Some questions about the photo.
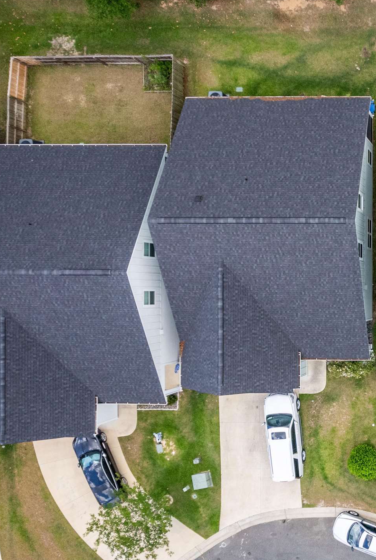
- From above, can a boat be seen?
No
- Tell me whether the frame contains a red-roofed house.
No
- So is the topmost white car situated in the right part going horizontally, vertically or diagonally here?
vertically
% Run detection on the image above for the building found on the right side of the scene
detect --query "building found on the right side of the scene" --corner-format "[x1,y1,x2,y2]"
[148,95,375,397]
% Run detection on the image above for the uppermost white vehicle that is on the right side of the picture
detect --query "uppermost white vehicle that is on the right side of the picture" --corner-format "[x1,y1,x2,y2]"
[258,390,307,483]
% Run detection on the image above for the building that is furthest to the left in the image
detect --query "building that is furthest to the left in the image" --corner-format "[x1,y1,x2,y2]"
[0,142,182,445]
